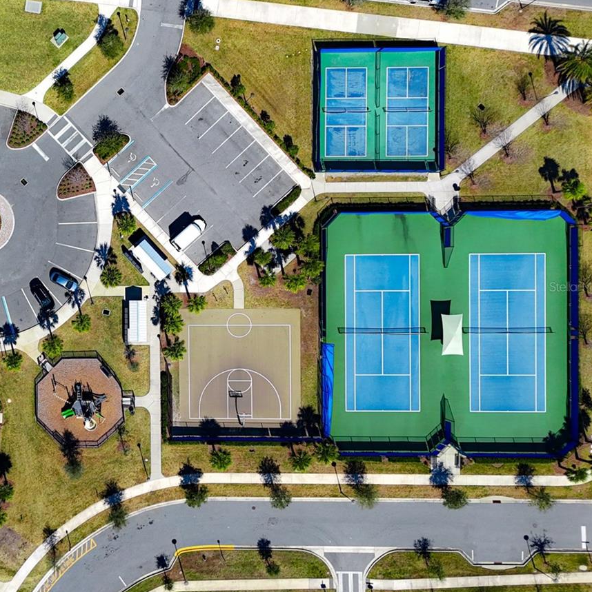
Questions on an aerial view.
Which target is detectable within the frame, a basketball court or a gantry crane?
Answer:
basketball court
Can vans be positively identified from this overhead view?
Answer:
Yes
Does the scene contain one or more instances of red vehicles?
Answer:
No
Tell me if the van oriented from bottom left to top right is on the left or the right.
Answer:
left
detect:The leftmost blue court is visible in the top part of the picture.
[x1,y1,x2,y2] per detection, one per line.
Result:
[316,51,376,168]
